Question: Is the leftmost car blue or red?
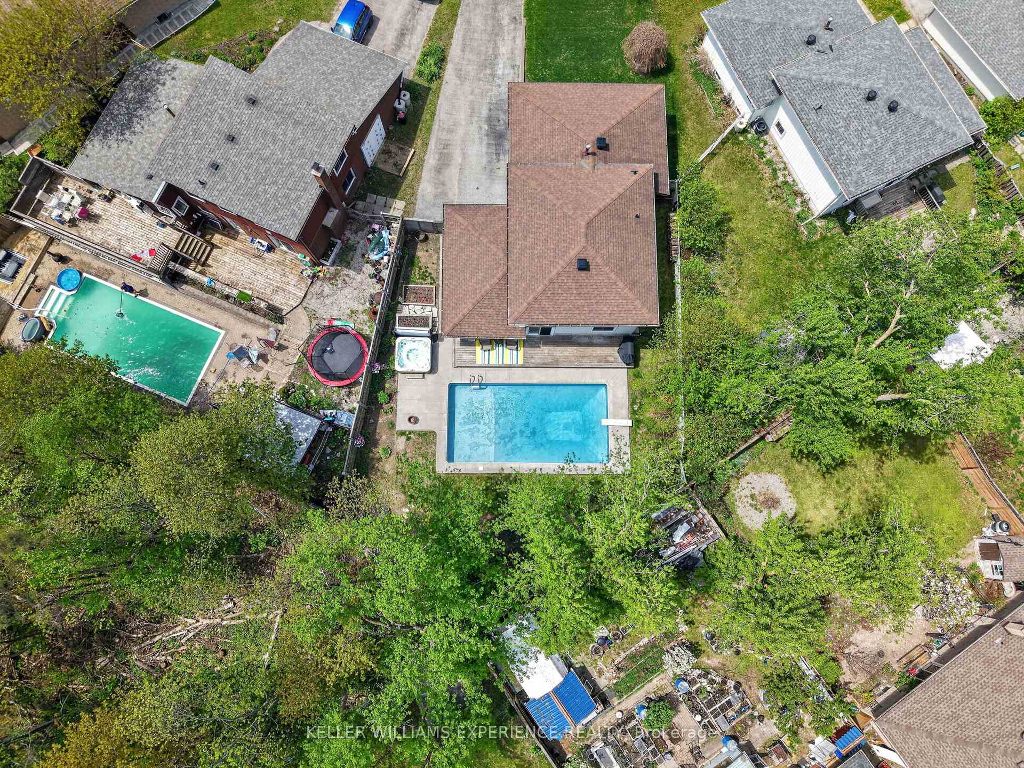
blue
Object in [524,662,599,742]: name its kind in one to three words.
shed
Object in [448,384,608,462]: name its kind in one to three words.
swimming pool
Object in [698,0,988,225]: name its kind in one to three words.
house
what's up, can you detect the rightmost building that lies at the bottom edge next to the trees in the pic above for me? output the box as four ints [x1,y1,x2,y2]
[864,583,1024,768]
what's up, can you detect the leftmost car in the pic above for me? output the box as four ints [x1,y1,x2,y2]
[335,0,380,44]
